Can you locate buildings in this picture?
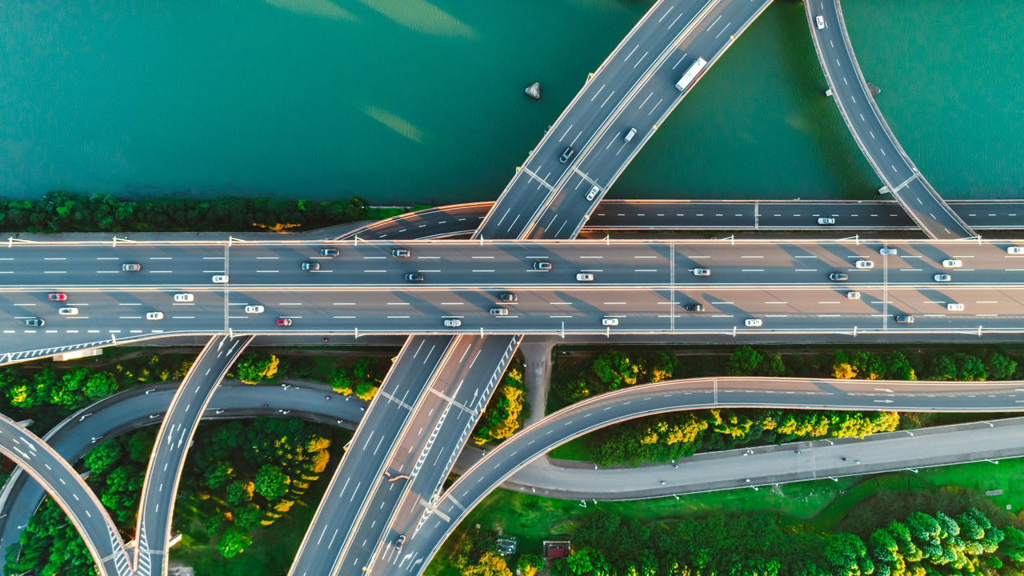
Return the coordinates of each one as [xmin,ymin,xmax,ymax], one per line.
[496,536,517,554]
[550,546,564,558]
